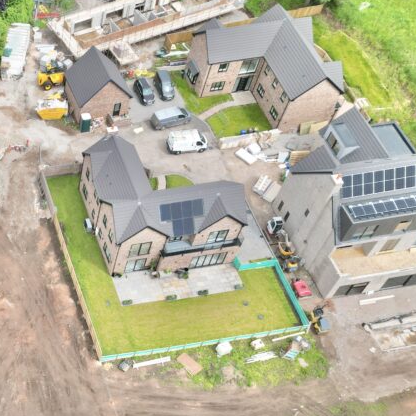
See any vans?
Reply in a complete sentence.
Yes, there is a van in the image.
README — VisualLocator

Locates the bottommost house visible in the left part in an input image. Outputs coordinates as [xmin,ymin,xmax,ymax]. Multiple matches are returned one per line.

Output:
[80,142,252,275]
